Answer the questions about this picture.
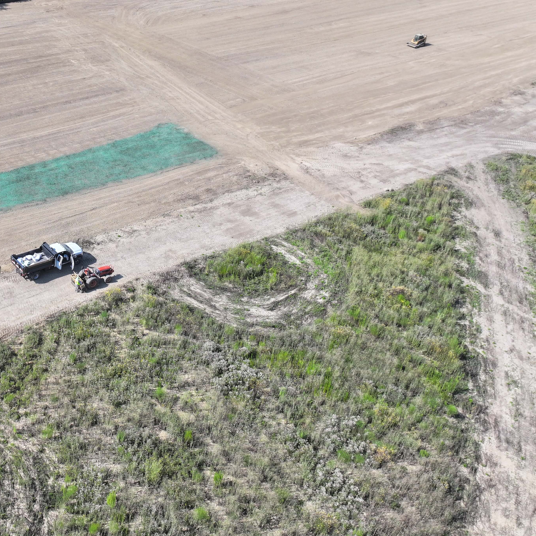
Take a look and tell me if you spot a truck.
Yes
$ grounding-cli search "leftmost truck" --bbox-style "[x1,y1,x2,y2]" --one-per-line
[9,240,87,282]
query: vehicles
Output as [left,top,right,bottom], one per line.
[406,31,433,48]
[78,265,112,291]
[9,240,87,282]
